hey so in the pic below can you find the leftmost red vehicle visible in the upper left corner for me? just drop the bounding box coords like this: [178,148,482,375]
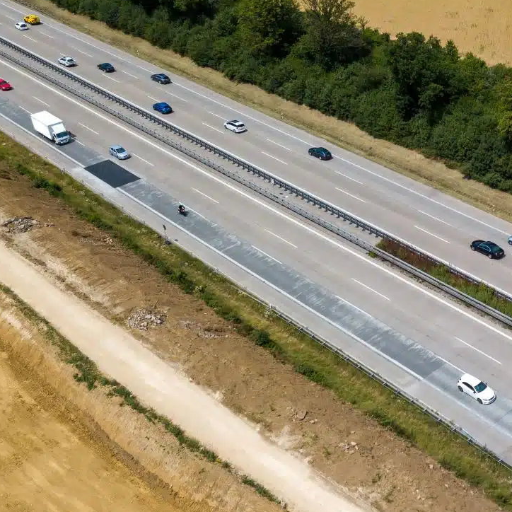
[0,79,12,92]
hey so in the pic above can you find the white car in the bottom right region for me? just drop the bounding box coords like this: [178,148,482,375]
[456,376,495,406]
